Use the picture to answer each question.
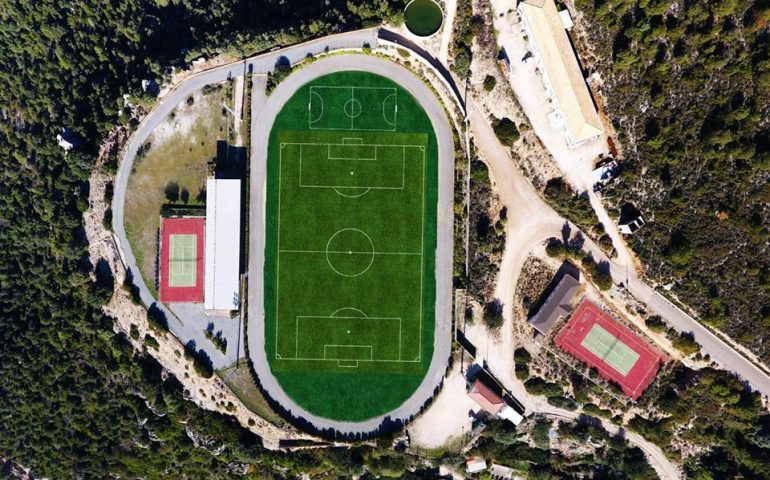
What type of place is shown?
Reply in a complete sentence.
The picture captures a sports ground.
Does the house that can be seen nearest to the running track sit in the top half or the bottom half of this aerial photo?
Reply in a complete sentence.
You can find the house that can be seen nearest to the running track in the bottom half.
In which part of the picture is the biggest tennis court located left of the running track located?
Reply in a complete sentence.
The biggest tennis court located left of the running track appears toward the left of the photo.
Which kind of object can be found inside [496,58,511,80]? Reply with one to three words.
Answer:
vehicle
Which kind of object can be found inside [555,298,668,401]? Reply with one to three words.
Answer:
tennis court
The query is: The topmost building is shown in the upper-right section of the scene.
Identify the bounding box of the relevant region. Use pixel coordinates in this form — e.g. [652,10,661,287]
[517,0,604,147]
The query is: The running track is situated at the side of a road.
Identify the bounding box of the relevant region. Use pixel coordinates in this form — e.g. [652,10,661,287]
[247,53,454,442]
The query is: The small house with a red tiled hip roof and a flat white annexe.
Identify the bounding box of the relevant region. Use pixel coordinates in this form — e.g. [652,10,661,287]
[467,378,523,427]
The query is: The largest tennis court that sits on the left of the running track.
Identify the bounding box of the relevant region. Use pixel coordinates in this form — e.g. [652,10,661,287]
[160,218,205,302]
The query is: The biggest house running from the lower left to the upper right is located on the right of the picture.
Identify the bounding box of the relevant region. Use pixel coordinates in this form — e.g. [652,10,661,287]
[527,274,581,347]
